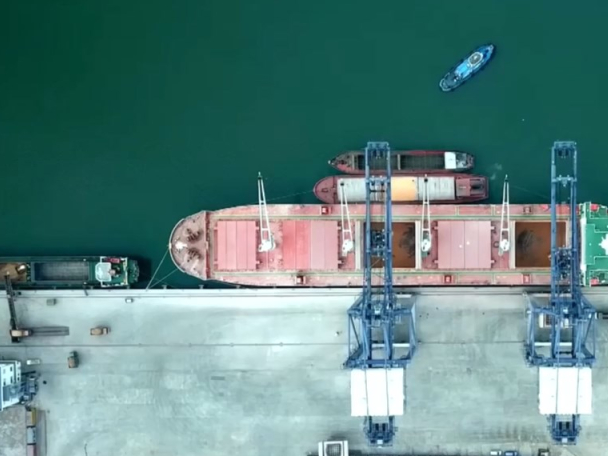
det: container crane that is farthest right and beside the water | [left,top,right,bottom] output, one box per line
[521,143,595,445]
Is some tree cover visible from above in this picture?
No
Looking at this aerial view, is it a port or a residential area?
port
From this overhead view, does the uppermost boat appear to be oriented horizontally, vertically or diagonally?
diagonally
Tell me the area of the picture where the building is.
bottom left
